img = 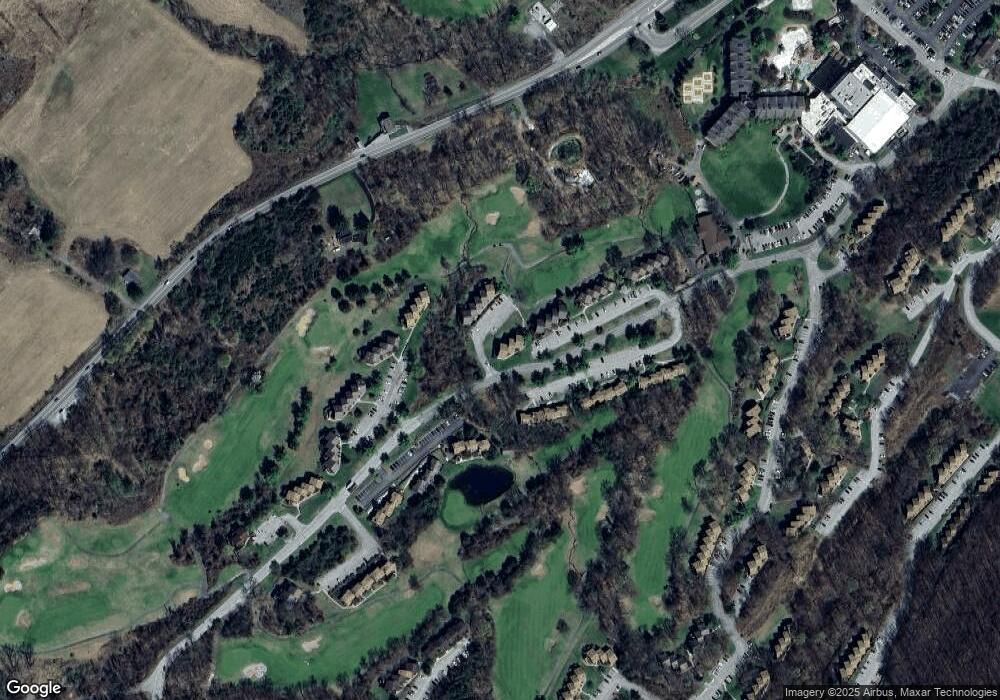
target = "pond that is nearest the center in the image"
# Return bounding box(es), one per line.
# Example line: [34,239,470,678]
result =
[449,464,514,503]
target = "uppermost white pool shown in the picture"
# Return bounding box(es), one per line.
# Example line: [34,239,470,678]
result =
[763,20,818,94]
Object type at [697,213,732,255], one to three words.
building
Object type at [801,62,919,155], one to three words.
building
